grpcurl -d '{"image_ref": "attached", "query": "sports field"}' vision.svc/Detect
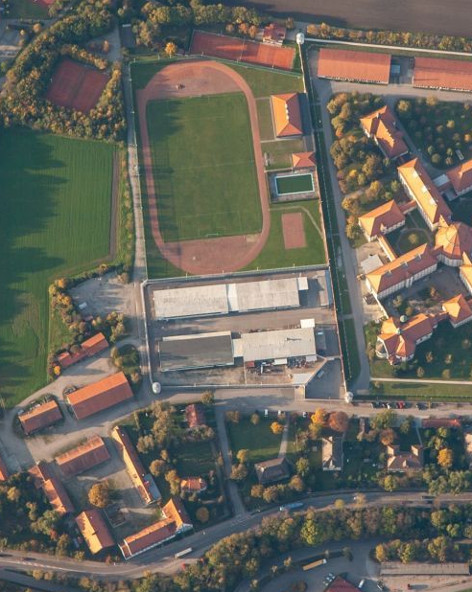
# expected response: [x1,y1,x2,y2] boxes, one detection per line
[146,92,263,242]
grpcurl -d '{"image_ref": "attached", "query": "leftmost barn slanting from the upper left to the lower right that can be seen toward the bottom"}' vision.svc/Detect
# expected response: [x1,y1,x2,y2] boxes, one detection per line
[31,460,68,513]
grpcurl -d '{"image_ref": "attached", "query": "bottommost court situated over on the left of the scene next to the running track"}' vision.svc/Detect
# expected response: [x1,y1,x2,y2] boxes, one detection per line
[45,58,110,110]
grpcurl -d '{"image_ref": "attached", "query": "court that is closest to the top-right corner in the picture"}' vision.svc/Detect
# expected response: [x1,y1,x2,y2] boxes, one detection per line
[259,41,295,70]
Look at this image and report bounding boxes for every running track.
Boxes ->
[137,60,270,276]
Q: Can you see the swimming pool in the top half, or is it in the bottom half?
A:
top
